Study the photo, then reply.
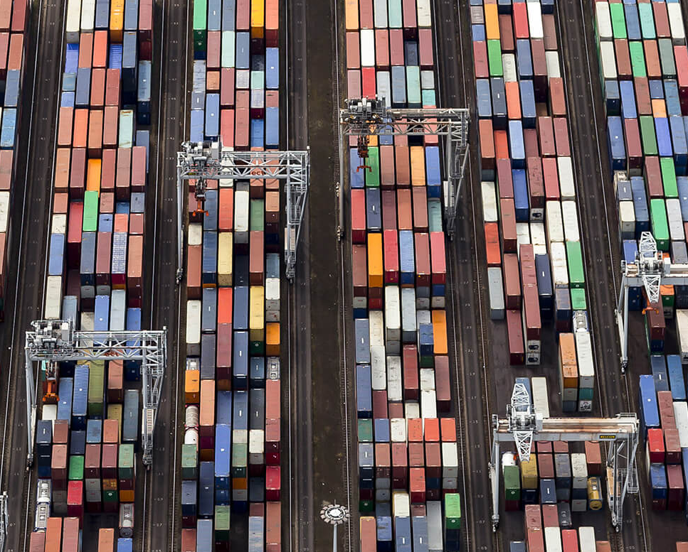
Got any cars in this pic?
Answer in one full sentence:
No, there is no car in the image.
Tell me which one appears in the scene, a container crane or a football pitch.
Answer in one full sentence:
The image shows a container crane.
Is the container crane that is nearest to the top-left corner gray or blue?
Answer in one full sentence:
The color of the container crane that is nearest to the top-left corner is gray.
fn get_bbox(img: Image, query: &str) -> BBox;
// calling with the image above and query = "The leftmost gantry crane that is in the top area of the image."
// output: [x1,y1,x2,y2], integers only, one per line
[175,126,308,288]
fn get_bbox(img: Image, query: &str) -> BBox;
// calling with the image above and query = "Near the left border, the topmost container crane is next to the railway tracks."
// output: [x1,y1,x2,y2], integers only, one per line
[22,302,164,479]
